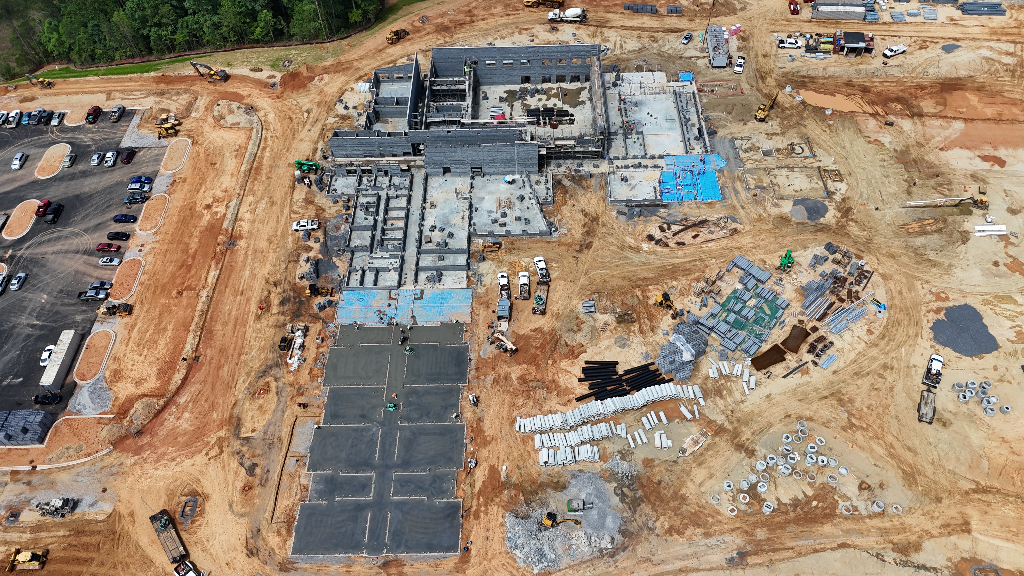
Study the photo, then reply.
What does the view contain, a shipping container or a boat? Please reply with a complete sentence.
The image shows a shipping container.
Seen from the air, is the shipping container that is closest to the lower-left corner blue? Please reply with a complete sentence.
No, the shipping container that is closest to the lower-left corner is white.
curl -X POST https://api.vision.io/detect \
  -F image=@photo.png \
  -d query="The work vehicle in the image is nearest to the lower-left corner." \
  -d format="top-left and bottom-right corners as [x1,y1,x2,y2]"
[1,545,52,576]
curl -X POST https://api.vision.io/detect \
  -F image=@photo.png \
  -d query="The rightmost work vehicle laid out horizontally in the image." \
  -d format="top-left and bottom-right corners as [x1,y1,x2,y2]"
[957,196,991,211]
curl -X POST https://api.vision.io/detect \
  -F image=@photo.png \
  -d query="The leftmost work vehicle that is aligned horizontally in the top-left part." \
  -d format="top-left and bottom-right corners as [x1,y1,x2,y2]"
[23,77,58,93]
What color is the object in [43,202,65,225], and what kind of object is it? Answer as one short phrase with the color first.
black truck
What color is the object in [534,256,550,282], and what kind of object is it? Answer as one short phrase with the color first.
white vehicle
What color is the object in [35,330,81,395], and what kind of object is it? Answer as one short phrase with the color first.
white shipping container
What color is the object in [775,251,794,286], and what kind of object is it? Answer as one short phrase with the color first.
green work vehicle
